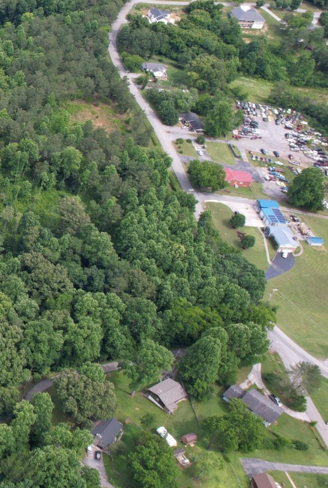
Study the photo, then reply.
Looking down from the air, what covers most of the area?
trees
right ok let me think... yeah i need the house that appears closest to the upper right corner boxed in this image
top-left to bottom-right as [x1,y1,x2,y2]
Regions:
[227,10,268,33]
